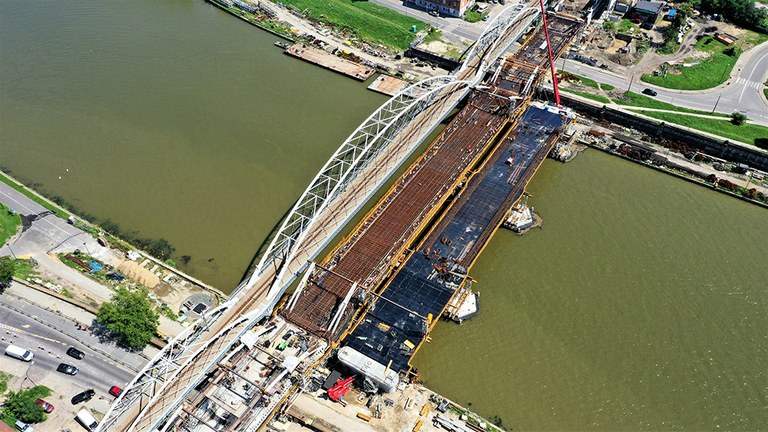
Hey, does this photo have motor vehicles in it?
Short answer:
Yes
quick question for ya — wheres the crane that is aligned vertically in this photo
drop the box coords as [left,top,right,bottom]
[532,0,578,117]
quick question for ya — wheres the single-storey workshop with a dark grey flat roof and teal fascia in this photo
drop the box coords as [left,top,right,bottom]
[633,1,664,22]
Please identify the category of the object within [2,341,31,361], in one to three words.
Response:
vehicle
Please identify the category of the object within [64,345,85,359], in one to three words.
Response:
car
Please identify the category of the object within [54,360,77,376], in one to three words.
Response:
car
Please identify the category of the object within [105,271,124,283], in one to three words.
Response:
vehicle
